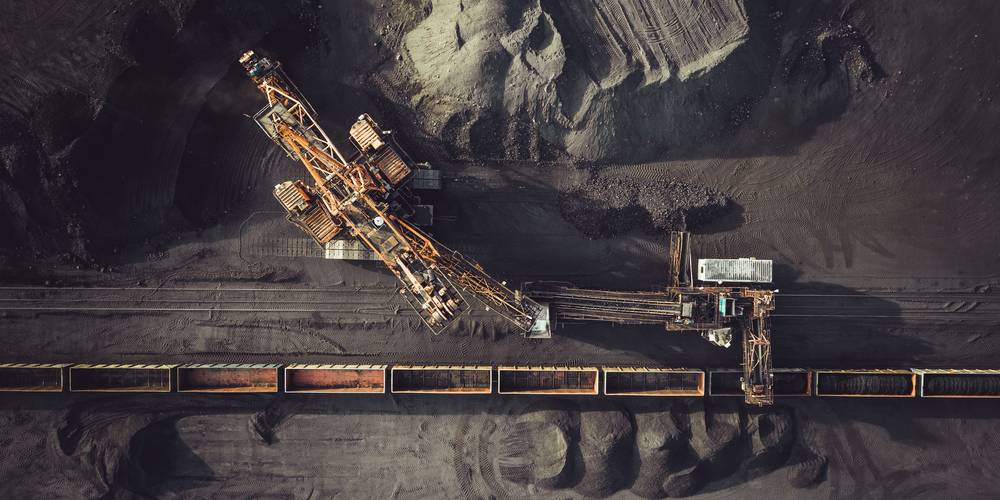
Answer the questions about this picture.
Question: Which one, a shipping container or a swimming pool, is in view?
shipping container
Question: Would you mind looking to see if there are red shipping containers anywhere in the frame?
No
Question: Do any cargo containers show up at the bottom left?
No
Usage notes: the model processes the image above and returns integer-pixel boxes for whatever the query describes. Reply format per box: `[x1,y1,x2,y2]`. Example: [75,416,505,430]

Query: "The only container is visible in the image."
[691,258,772,283]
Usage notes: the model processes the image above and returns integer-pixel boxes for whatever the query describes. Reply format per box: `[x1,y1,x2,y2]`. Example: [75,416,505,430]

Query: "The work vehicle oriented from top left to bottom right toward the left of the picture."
[231,43,549,334]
